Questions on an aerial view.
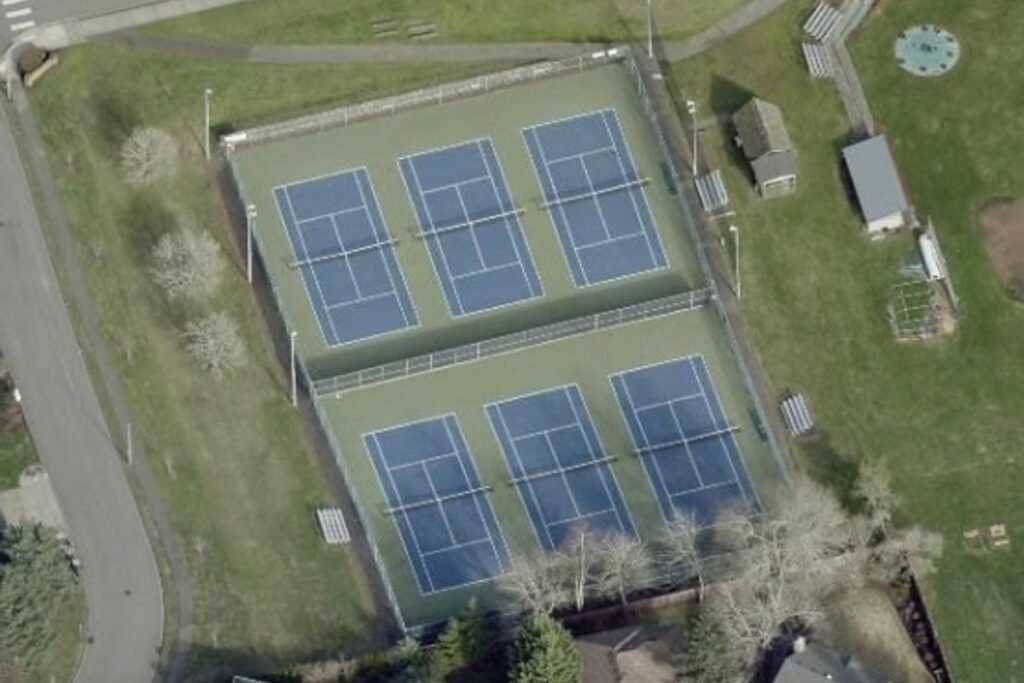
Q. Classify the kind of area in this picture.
sports ground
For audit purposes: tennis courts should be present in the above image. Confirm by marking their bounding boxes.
[520,108,671,287]
[608,354,762,538]
[396,138,546,317]
[484,383,636,568]
[362,412,513,597]
[273,167,421,347]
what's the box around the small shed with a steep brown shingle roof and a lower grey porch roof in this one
[732,97,800,202]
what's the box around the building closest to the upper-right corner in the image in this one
[838,135,911,244]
